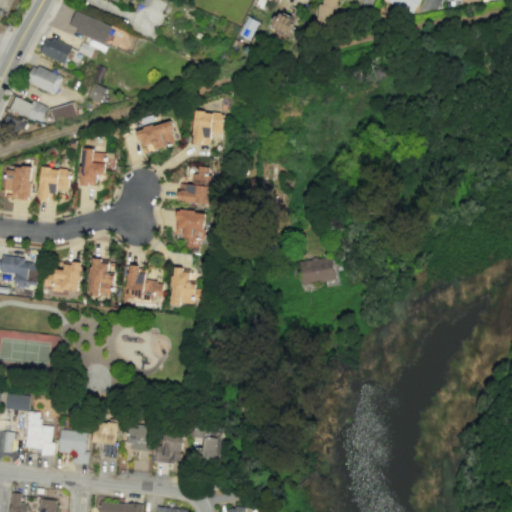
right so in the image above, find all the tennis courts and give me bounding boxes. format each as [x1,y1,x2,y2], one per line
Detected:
[0,330,62,368]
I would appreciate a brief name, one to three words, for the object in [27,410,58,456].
building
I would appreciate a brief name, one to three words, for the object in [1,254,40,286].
house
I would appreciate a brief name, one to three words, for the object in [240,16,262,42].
building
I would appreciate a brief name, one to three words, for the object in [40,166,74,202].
house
